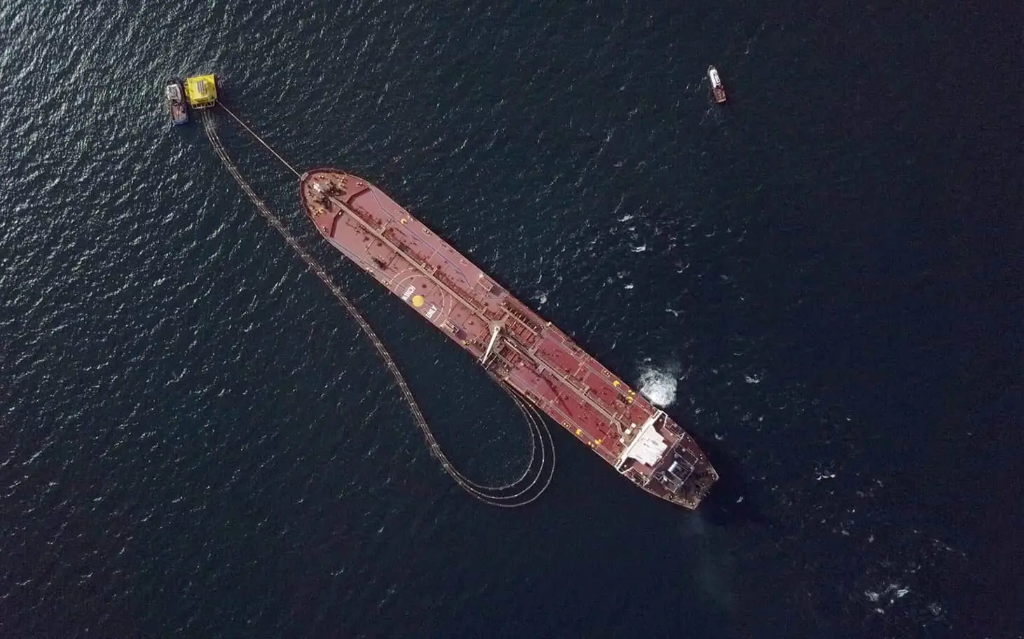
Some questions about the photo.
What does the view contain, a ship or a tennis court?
ship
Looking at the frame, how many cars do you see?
0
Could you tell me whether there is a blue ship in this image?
No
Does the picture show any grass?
No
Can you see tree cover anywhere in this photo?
No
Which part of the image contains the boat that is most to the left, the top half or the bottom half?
top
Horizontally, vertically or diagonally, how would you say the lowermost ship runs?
diagonally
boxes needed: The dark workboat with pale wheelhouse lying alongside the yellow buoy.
[167,76,188,123]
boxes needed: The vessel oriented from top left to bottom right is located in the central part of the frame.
[299,169,719,510]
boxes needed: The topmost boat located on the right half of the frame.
[709,65,726,102]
